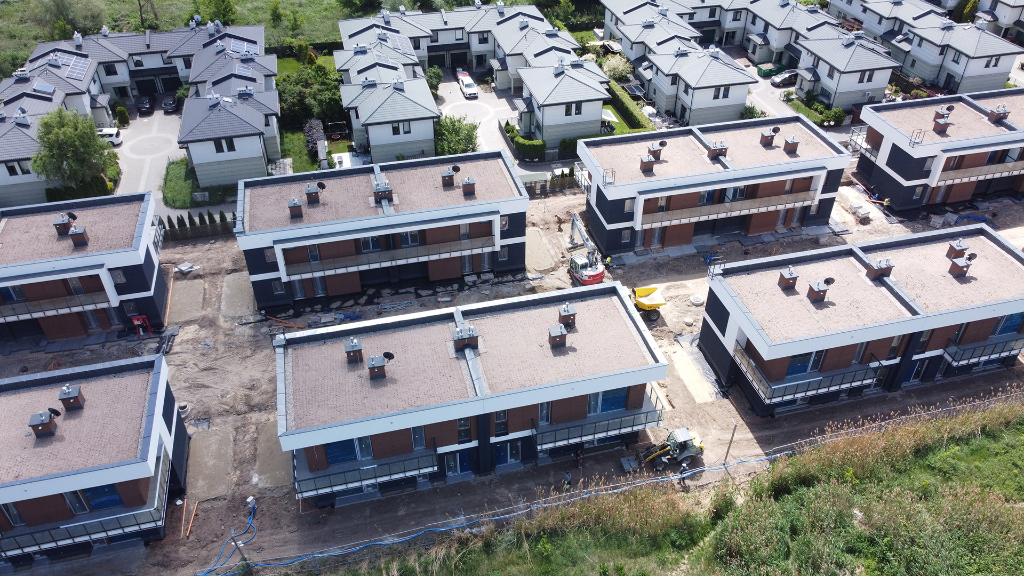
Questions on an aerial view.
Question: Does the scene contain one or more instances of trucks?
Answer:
Yes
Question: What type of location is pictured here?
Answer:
residential area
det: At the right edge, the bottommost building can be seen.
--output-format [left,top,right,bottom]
[697,225,1024,420]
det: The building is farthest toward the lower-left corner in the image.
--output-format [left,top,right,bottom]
[0,355,190,576]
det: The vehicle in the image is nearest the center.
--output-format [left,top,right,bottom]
[559,222,608,288]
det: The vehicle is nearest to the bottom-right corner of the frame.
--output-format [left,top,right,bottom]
[639,424,705,472]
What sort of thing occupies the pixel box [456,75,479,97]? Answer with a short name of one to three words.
car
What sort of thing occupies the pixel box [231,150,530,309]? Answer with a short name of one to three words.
house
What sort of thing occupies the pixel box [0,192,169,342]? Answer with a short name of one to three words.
house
